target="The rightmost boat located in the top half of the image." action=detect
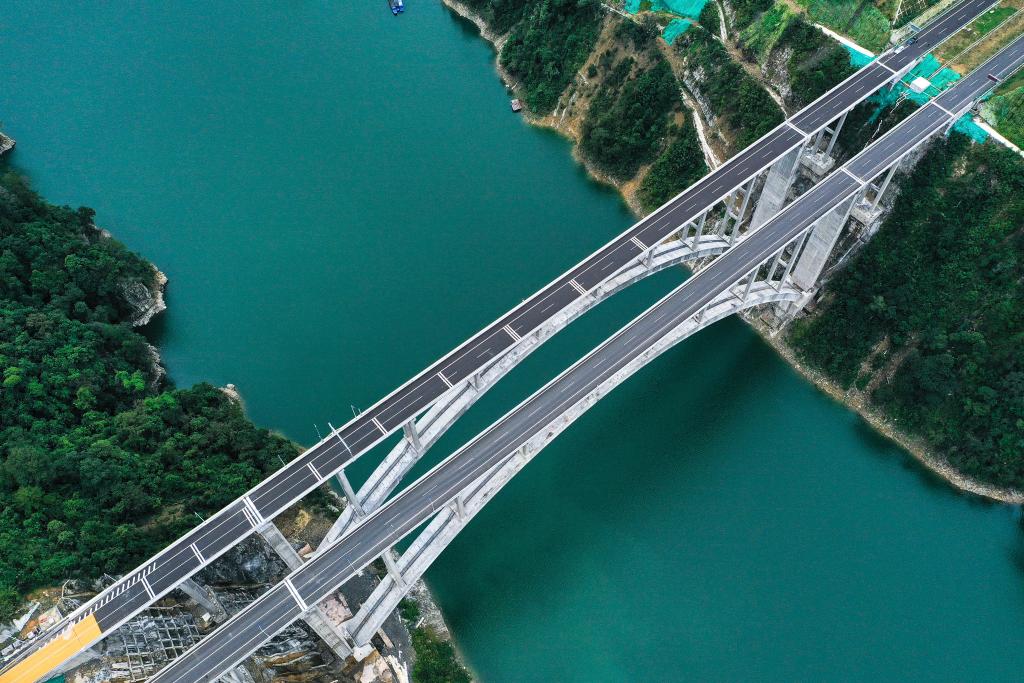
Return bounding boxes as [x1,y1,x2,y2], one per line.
[506,97,520,110]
